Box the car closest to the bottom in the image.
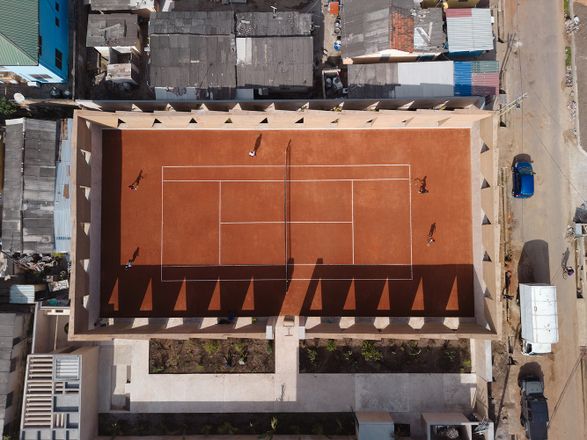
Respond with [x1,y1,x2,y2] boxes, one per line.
[517,378,548,440]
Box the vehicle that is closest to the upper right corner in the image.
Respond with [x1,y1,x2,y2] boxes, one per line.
[510,158,535,198]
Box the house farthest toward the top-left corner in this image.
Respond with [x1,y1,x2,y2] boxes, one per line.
[0,0,68,86]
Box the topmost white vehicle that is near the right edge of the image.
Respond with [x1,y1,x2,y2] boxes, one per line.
[513,281,558,352]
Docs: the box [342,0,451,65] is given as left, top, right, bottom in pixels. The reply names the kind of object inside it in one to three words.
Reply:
house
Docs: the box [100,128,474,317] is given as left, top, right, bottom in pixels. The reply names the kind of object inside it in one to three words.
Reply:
tennis court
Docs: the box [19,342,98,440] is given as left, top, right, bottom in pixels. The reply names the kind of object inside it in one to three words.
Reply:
building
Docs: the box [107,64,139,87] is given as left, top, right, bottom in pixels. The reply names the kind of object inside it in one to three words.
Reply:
shed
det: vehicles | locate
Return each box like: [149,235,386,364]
[510,158,535,198]
[517,378,548,440]
[513,281,558,352]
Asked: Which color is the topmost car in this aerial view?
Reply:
blue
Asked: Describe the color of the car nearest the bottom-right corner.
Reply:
black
